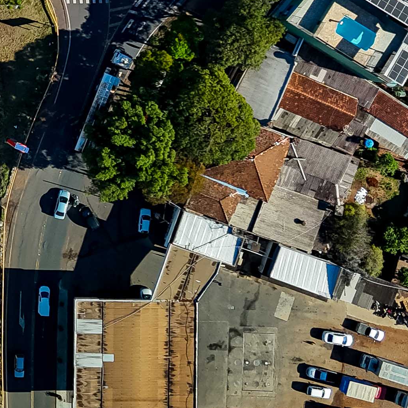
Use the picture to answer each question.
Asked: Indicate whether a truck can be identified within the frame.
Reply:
Yes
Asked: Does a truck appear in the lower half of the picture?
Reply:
Yes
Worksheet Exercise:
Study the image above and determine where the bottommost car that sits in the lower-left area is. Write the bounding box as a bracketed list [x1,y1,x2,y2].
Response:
[13,354,27,378]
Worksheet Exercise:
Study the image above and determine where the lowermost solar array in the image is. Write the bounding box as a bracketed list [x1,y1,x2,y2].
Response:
[388,50,408,83]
